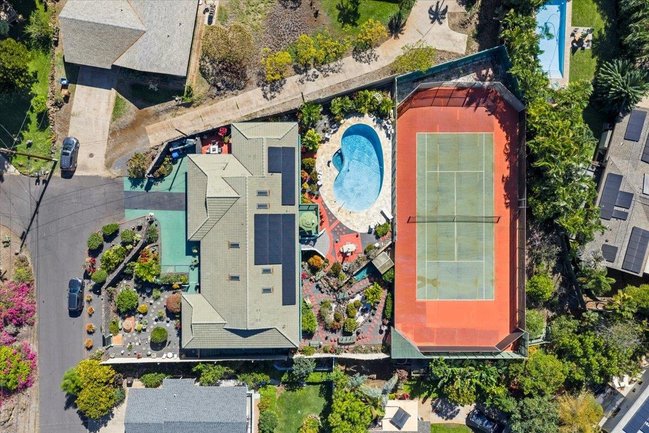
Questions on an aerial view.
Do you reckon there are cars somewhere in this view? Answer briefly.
Yes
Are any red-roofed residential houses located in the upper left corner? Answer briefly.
No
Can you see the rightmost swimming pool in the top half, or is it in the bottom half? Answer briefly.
top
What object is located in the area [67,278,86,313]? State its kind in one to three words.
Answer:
car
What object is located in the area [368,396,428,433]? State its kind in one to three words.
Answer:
shed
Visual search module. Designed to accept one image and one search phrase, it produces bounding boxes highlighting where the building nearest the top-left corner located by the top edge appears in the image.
[59,0,200,74]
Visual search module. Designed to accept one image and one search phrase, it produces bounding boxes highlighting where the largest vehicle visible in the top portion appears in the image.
[60,138,79,171]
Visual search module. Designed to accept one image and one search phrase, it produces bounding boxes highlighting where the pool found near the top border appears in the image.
[535,0,566,77]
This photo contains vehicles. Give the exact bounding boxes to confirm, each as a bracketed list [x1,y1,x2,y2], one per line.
[60,138,79,171]
[67,278,86,313]
[468,408,501,433]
